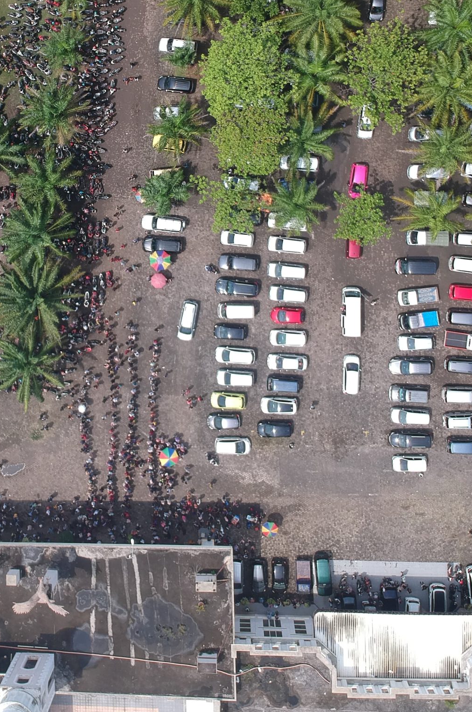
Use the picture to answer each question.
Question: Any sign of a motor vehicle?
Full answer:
Yes, a motor vehicle appears in the view.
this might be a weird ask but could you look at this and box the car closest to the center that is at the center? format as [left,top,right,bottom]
[217,345,255,364]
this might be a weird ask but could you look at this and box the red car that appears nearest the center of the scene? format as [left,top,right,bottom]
[269,306,305,324]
